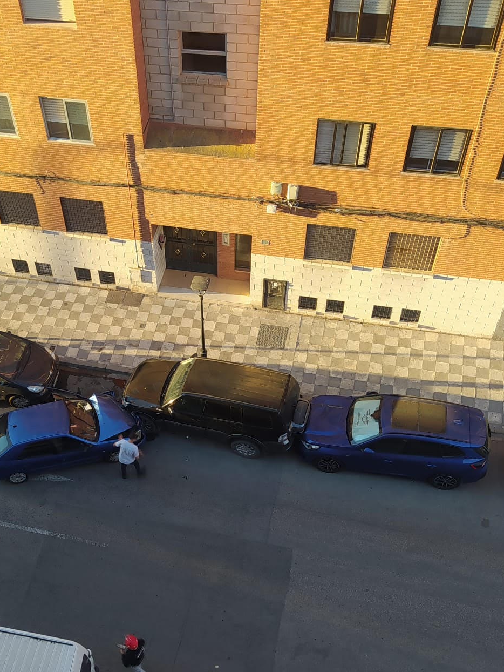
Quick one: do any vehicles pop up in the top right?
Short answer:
No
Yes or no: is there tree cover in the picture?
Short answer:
No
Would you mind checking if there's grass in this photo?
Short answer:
No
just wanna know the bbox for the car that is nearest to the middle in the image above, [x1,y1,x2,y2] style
[122,350,314,454]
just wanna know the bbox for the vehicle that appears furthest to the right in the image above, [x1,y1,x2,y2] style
[297,381,492,489]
